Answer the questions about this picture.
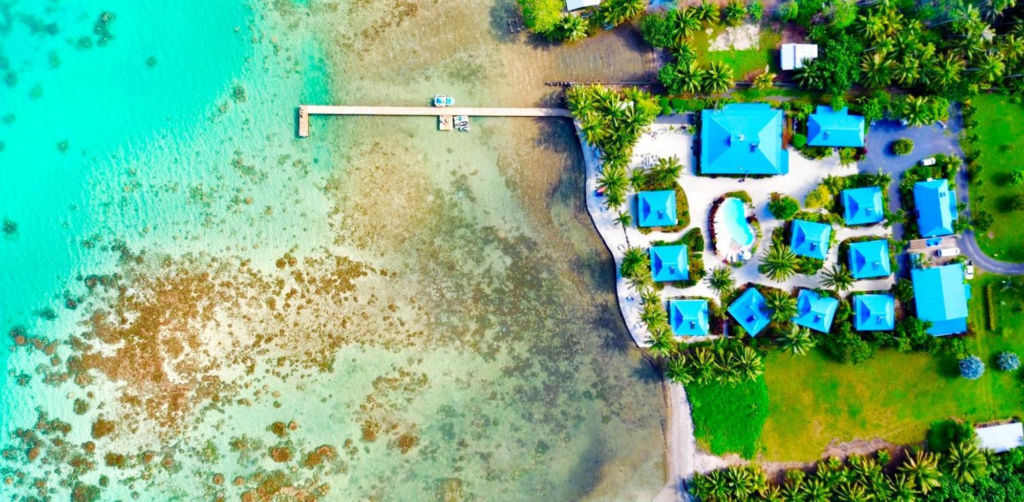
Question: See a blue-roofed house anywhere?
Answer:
Yes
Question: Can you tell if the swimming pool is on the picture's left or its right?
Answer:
right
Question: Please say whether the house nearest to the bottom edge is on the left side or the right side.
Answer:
right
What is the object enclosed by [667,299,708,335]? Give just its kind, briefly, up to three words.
house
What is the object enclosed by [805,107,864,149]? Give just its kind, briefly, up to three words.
building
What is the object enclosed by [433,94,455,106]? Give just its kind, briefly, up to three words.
boat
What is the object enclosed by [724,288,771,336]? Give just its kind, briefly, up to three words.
house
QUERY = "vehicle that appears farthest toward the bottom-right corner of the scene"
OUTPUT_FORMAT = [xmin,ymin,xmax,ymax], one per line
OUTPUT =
[961,261,973,281]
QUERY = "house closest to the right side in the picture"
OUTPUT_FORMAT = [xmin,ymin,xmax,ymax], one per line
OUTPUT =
[972,421,1024,453]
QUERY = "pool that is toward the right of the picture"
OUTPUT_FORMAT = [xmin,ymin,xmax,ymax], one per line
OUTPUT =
[720,197,755,247]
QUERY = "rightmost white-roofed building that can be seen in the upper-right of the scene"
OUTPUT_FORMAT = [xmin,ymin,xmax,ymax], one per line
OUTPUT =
[778,43,818,71]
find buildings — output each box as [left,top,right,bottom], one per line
[667,299,708,335]
[724,288,771,336]
[647,245,689,281]
[786,220,831,259]
[851,295,893,330]
[635,191,676,227]
[788,289,838,329]
[911,181,956,237]
[805,107,864,149]
[701,101,788,174]
[778,43,818,71]
[835,187,882,225]
[972,421,1024,453]
[566,0,600,14]
[844,240,889,278]
[903,263,968,336]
